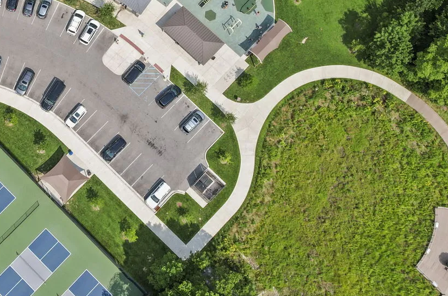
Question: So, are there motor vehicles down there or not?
Yes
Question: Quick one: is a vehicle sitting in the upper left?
Yes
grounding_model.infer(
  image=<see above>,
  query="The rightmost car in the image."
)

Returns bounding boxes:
[181,108,206,135]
